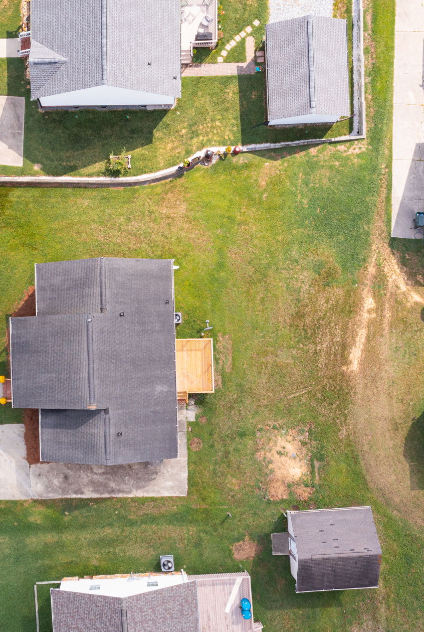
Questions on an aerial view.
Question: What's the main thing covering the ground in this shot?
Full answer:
The bulk of the photo consists of grass.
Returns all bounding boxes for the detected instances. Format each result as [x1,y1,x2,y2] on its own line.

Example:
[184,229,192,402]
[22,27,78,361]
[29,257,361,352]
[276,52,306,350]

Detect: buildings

[5,258,180,464]
[286,505,382,594]
[49,573,200,632]
[16,0,182,112]
[251,15,355,128]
